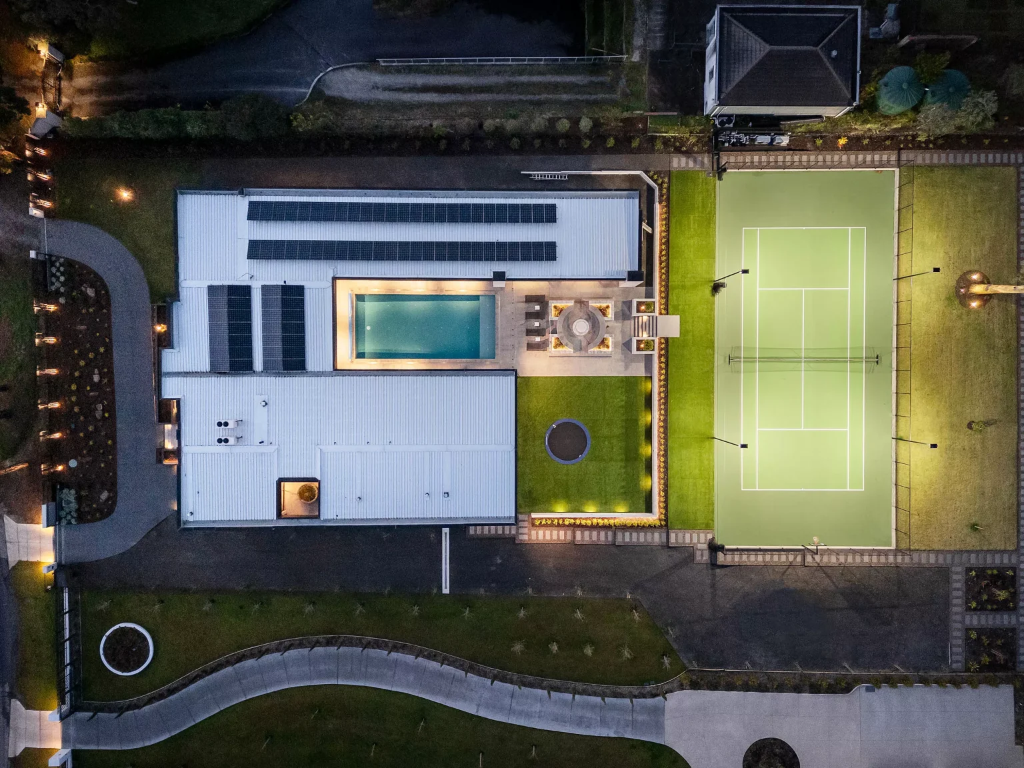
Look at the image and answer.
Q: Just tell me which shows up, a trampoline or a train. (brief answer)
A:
trampoline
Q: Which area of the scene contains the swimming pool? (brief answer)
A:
center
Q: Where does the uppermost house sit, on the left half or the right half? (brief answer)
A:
right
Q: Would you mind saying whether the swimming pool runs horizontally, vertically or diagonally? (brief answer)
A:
horizontally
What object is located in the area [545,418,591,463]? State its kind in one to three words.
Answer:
trampoline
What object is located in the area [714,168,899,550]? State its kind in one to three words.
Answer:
tennis court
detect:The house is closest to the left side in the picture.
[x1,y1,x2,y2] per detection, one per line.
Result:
[160,186,643,529]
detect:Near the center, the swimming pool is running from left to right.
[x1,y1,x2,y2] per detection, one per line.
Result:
[351,290,499,364]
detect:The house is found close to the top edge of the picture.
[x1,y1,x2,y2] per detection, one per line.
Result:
[706,0,863,127]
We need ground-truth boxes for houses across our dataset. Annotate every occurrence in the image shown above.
[160,186,643,529]
[706,0,863,127]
